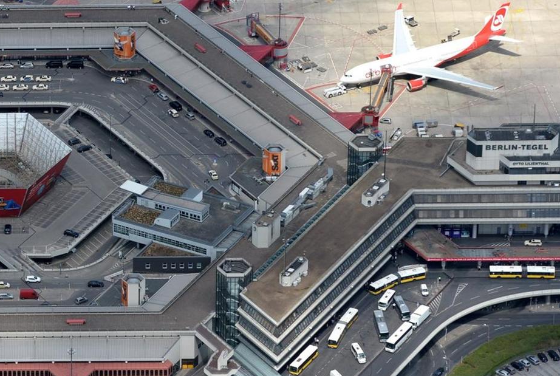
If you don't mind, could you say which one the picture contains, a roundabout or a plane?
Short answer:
plane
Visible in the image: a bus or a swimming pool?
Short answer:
bus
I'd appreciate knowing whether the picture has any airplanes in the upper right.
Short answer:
Yes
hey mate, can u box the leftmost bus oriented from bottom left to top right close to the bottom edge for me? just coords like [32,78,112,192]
[289,342,319,371]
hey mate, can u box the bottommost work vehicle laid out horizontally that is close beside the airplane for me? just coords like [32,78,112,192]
[322,83,347,96]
